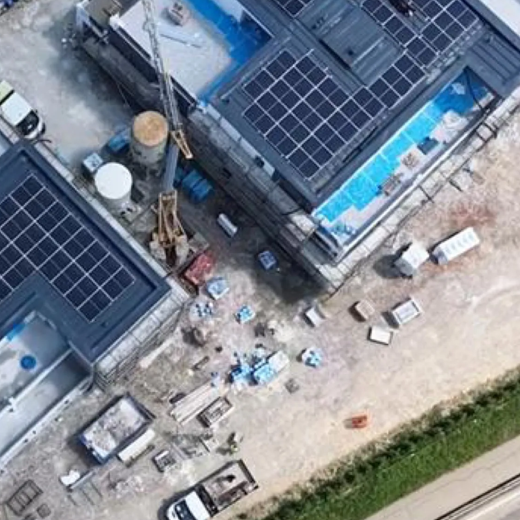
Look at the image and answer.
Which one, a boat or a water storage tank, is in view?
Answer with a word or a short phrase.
water storage tank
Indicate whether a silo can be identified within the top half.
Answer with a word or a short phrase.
Yes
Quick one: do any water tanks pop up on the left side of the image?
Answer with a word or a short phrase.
Yes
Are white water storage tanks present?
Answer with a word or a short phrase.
Yes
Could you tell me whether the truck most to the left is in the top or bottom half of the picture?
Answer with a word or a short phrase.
top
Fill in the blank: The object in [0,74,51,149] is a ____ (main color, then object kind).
white truck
